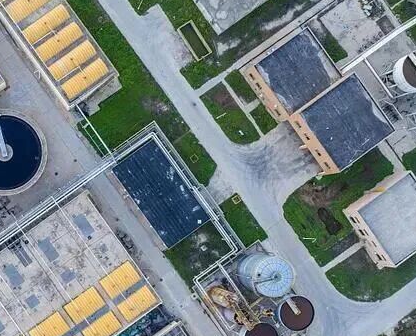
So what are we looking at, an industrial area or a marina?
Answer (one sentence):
It's an industrial area.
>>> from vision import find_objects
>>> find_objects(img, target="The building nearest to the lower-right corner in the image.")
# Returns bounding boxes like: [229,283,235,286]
[341,173,416,267]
